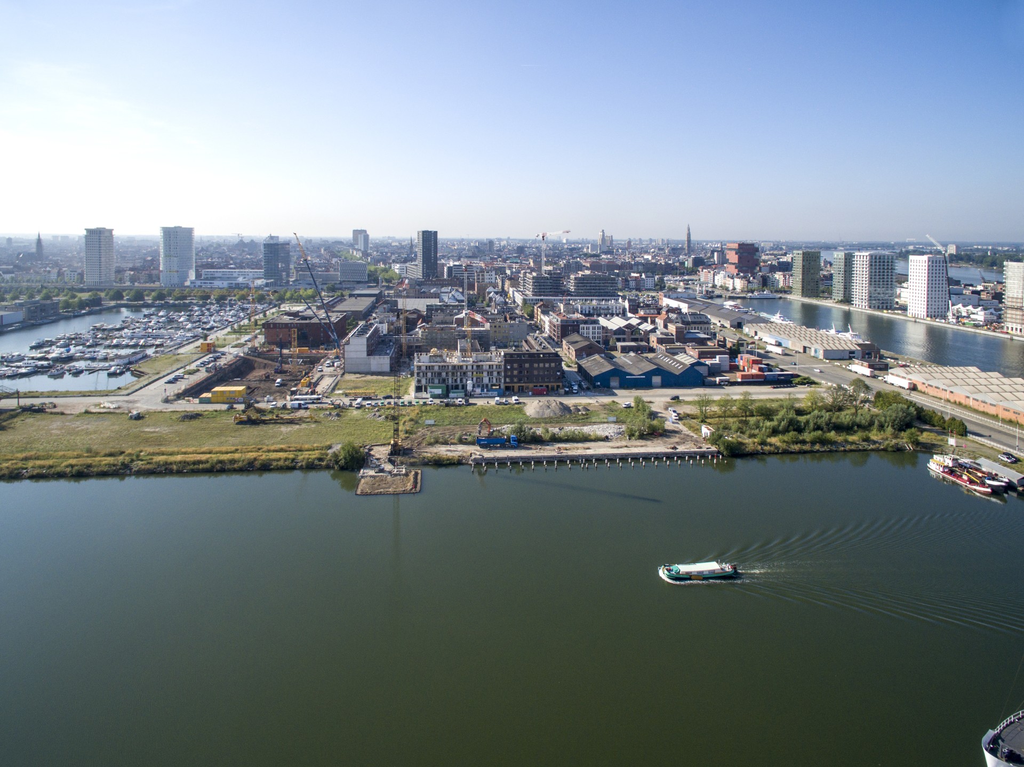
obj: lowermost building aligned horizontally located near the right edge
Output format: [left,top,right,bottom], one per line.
[879,368,1024,428]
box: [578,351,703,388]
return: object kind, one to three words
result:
building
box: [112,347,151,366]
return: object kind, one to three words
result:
boat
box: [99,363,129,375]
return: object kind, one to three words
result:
boat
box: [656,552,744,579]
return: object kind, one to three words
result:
vessel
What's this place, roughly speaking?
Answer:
port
